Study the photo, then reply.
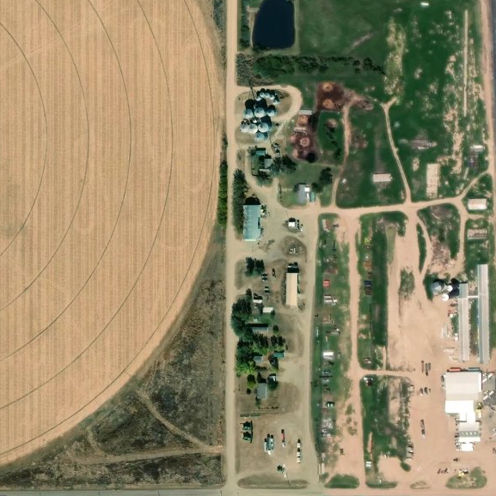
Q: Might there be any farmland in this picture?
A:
Yes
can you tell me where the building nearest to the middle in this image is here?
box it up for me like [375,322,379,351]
[243,205,261,240]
